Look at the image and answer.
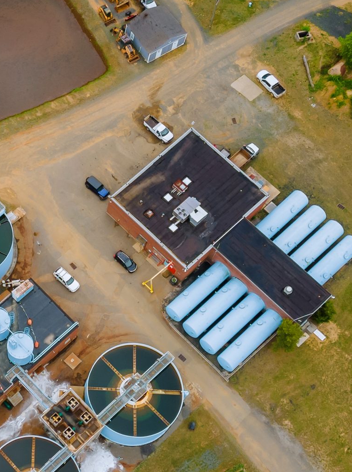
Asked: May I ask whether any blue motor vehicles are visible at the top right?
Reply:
No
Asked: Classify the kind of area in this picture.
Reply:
industrial area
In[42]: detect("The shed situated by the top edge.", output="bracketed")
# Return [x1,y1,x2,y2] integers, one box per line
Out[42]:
[124,5,190,64]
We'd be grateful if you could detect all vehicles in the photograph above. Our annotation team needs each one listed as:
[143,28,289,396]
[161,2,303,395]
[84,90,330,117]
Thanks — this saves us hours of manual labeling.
[140,0,161,9]
[229,143,261,169]
[98,3,116,28]
[144,115,174,144]
[51,266,82,296]
[256,71,286,99]
[83,174,111,201]
[108,0,131,15]
[109,28,139,66]
[112,249,139,276]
